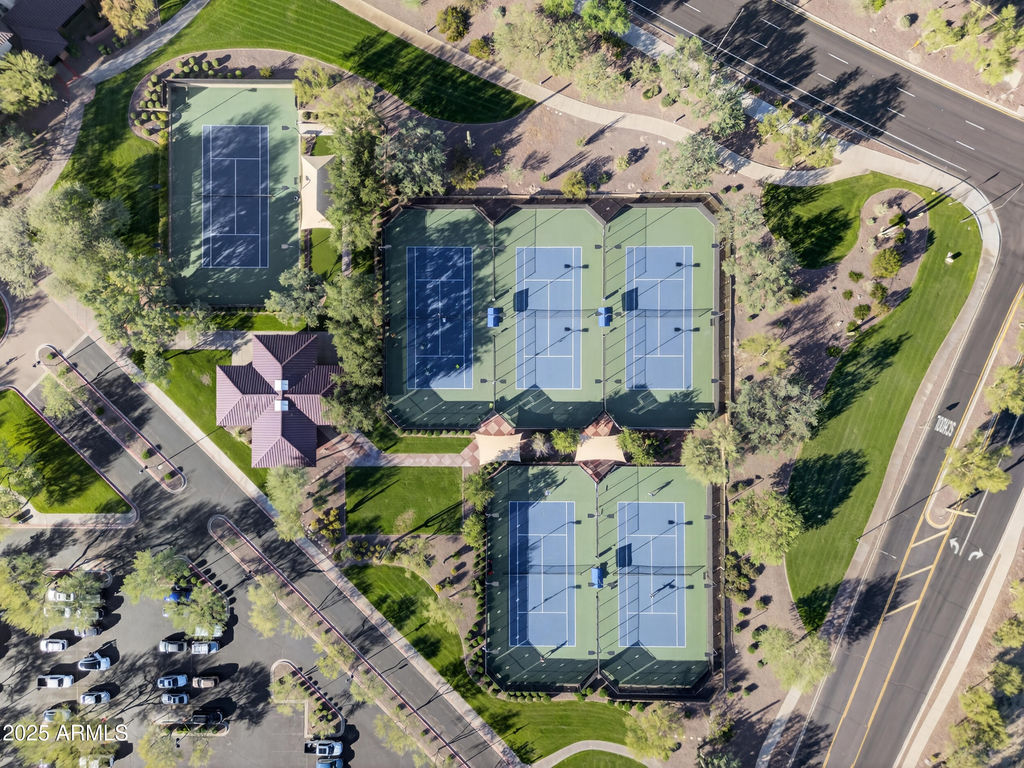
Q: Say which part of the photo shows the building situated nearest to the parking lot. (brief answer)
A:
left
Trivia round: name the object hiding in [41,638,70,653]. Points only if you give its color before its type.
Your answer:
white car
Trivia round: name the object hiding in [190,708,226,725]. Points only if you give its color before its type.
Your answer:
black vehicle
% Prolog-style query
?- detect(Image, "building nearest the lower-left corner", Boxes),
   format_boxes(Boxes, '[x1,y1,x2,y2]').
[216,334,343,468]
